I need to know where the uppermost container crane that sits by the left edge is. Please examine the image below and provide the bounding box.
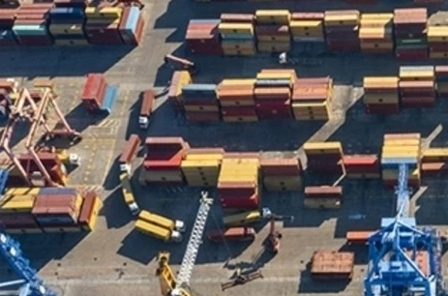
[0,91,83,167]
